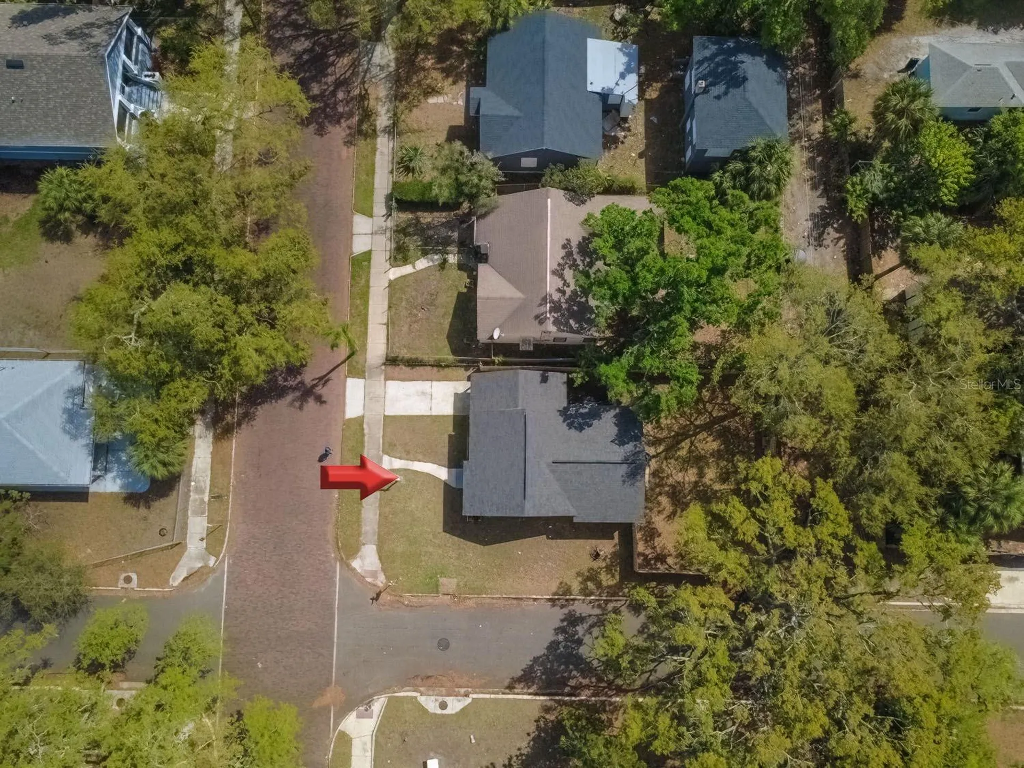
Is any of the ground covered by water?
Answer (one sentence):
No, the picture contains no water.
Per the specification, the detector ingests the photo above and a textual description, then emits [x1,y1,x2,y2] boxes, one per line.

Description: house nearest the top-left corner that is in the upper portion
[0,4,176,161]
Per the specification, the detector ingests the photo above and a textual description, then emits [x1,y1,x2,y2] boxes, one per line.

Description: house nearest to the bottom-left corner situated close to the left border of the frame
[0,360,108,488]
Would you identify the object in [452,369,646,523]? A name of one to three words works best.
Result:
house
